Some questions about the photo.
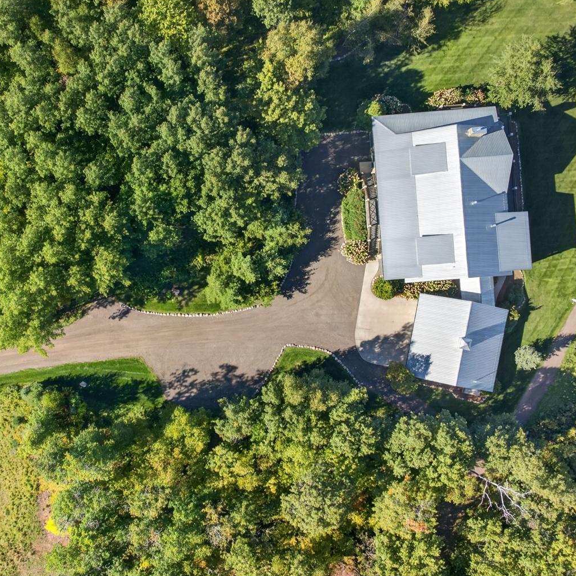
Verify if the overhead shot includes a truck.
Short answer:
No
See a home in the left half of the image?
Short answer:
No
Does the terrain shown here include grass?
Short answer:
Yes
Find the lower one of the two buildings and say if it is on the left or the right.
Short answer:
right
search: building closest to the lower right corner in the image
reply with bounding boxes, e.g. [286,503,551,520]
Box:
[407,293,508,392]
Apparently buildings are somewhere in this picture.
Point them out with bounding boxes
[407,293,508,392]
[367,107,533,283]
